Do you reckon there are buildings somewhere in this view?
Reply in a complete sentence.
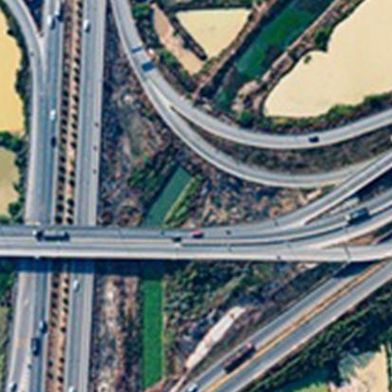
No, the frame has no building in it.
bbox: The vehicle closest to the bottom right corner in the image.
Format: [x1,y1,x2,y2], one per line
[223,345,255,370]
